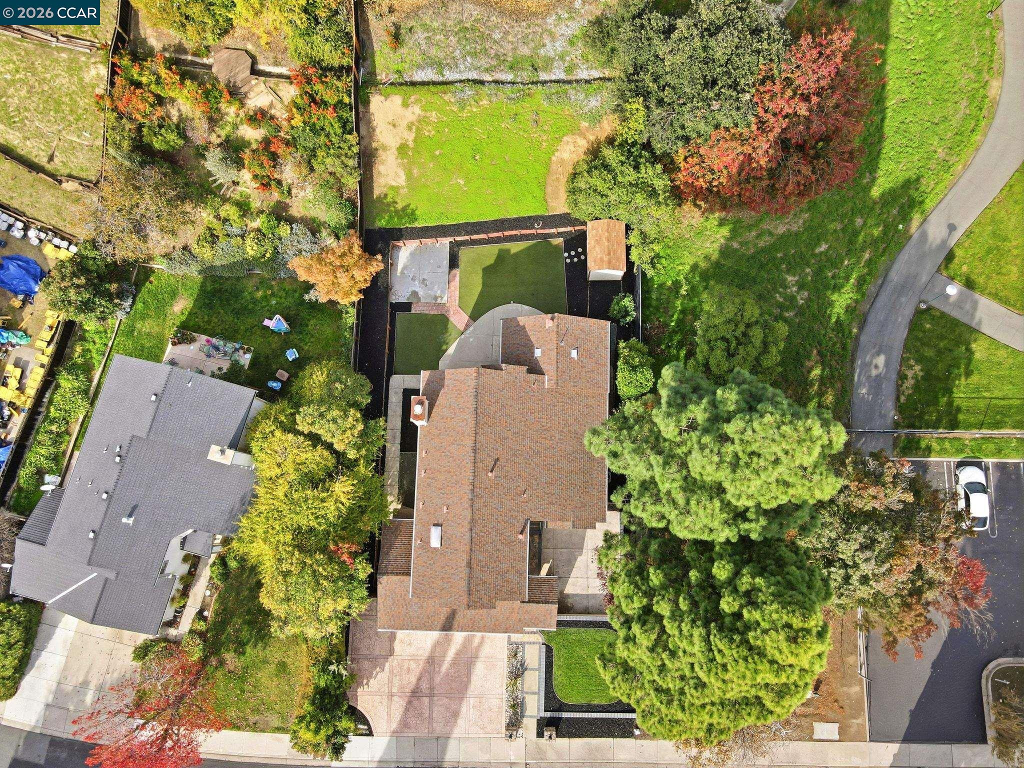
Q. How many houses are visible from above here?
2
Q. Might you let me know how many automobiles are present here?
1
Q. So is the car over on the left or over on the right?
right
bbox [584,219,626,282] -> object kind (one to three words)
shed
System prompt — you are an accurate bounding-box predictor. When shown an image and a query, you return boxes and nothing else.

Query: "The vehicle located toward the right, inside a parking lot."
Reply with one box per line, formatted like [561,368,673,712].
[954,466,994,534]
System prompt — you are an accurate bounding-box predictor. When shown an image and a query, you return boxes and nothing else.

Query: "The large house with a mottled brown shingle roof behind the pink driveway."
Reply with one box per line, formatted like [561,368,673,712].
[377,314,612,635]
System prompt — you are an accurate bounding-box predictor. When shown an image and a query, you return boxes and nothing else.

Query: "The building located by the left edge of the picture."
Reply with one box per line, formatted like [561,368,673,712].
[11,355,269,635]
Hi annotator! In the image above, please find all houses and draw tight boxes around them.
[11,355,269,635]
[377,314,612,635]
